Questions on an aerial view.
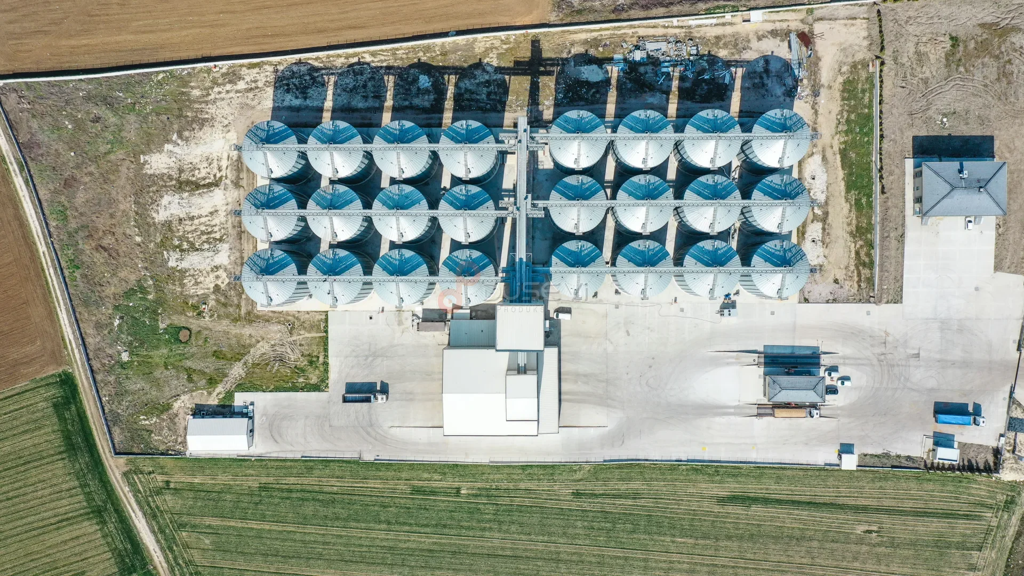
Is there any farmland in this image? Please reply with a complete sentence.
Yes, farmland can be seen from above here.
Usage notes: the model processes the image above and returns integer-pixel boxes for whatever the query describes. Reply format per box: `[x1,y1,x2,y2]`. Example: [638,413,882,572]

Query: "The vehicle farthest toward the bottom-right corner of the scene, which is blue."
[936,412,987,425]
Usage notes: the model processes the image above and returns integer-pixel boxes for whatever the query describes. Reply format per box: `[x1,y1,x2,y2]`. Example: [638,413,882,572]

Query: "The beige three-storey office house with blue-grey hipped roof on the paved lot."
[913,161,1007,225]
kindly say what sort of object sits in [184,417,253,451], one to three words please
shed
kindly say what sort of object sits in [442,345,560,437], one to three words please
building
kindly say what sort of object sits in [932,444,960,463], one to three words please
house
